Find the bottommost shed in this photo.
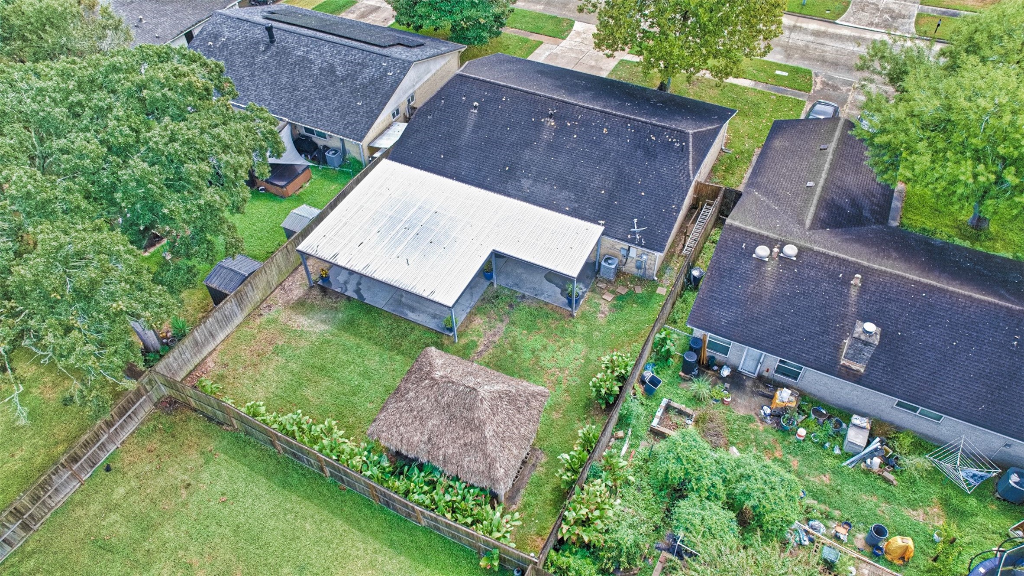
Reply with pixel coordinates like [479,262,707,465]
[361,347,556,501]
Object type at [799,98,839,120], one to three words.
car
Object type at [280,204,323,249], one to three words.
shed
